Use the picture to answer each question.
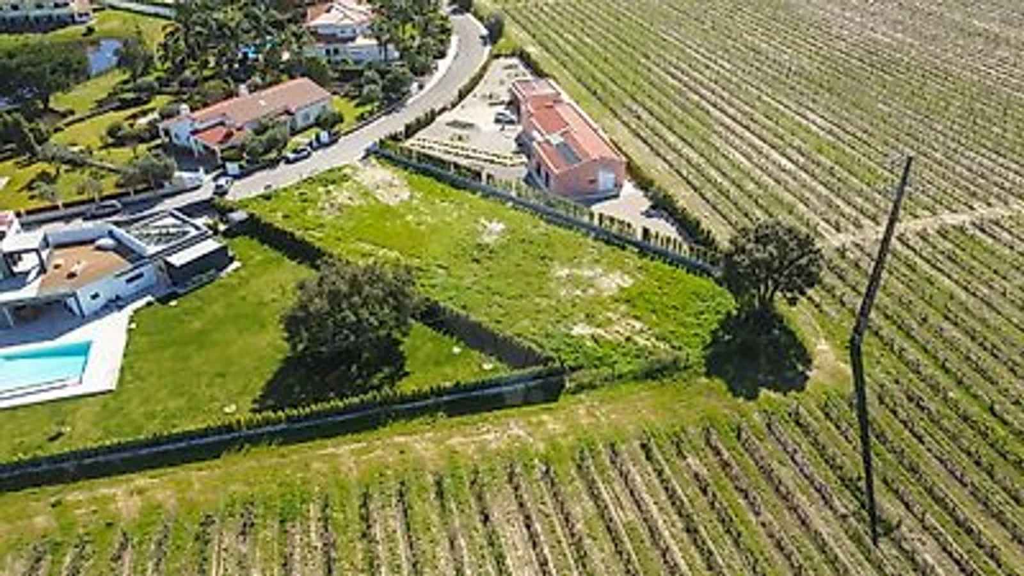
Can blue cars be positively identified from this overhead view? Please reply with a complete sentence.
No, the frame has no blue car in it.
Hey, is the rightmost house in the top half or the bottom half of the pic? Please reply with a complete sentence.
Seen from above, the rightmost house lies in the top half of the view.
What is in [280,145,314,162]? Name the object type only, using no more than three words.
car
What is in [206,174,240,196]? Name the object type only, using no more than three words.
car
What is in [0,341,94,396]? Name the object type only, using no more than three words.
swimming pool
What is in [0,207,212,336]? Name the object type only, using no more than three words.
house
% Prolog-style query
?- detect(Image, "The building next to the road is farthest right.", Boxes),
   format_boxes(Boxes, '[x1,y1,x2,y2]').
[504,64,626,199]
